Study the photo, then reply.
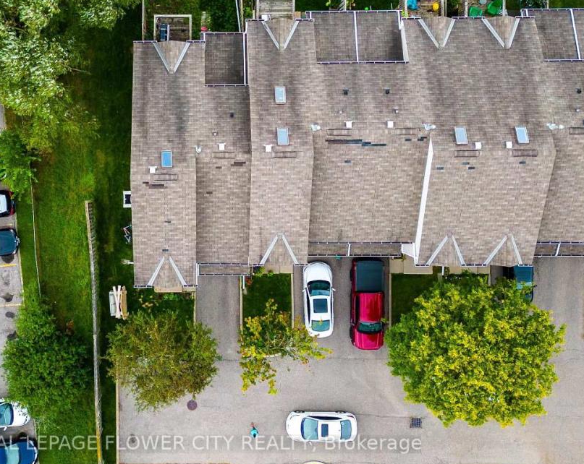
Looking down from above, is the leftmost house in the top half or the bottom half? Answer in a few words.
top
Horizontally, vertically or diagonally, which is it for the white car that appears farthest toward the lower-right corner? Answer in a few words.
horizontally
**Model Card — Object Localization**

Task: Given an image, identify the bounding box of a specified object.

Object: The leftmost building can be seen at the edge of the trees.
[123,29,254,292]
